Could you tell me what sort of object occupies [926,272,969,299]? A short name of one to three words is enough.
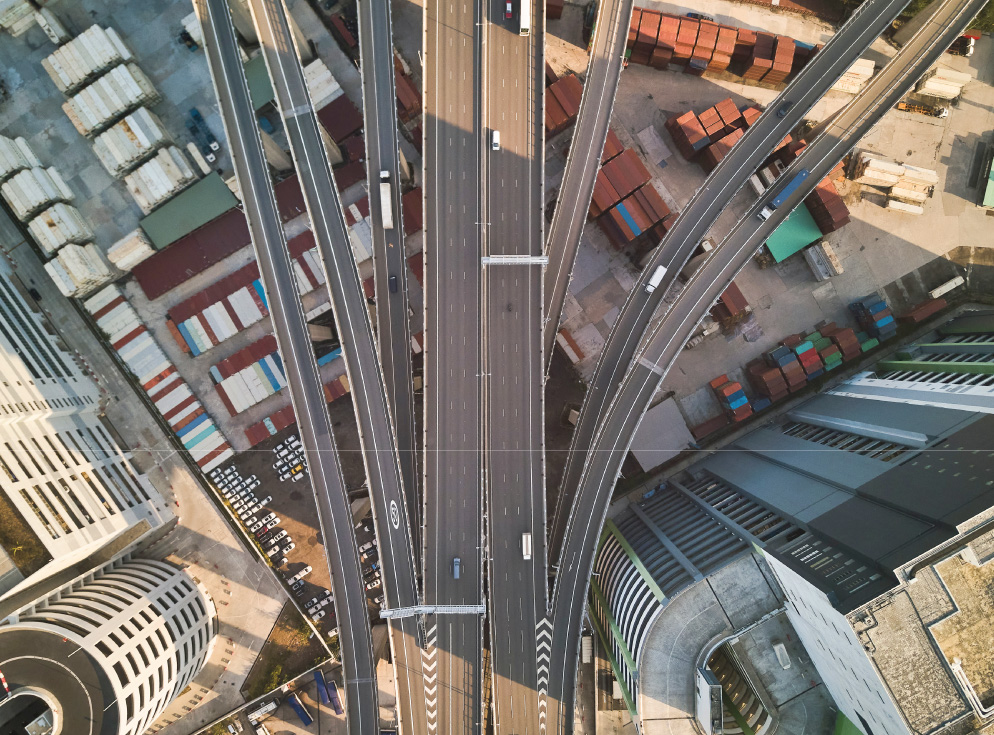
shipping container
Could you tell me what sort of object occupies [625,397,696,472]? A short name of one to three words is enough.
shed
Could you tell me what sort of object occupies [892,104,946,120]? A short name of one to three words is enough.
vehicle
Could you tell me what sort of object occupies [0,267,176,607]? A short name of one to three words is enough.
warehouse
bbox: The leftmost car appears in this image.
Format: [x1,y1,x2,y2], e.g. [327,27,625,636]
[26,285,41,302]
